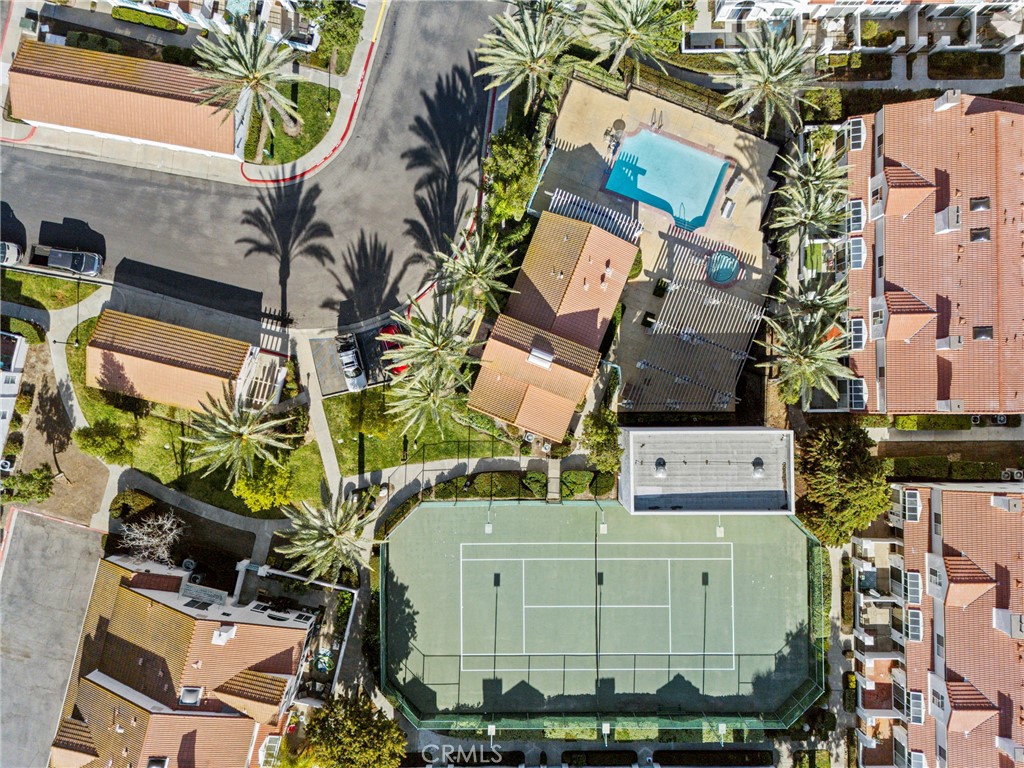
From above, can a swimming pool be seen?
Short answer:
Yes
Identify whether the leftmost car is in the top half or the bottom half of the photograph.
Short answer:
top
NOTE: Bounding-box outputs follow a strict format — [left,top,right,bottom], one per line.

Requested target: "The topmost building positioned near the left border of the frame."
[9,40,246,159]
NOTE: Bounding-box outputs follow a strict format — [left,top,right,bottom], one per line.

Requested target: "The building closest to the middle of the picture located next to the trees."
[467,211,638,439]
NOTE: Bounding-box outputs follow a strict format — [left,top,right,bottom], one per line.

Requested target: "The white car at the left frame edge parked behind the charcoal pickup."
[0,236,23,265]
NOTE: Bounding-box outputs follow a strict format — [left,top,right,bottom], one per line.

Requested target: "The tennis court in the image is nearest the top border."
[387,500,809,713]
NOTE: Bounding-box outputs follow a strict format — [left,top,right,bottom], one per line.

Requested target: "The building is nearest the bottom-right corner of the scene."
[890,484,1024,768]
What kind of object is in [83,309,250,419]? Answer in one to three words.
building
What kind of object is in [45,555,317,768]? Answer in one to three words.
building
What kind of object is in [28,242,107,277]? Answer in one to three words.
truck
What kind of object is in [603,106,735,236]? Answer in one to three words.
swimming pool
